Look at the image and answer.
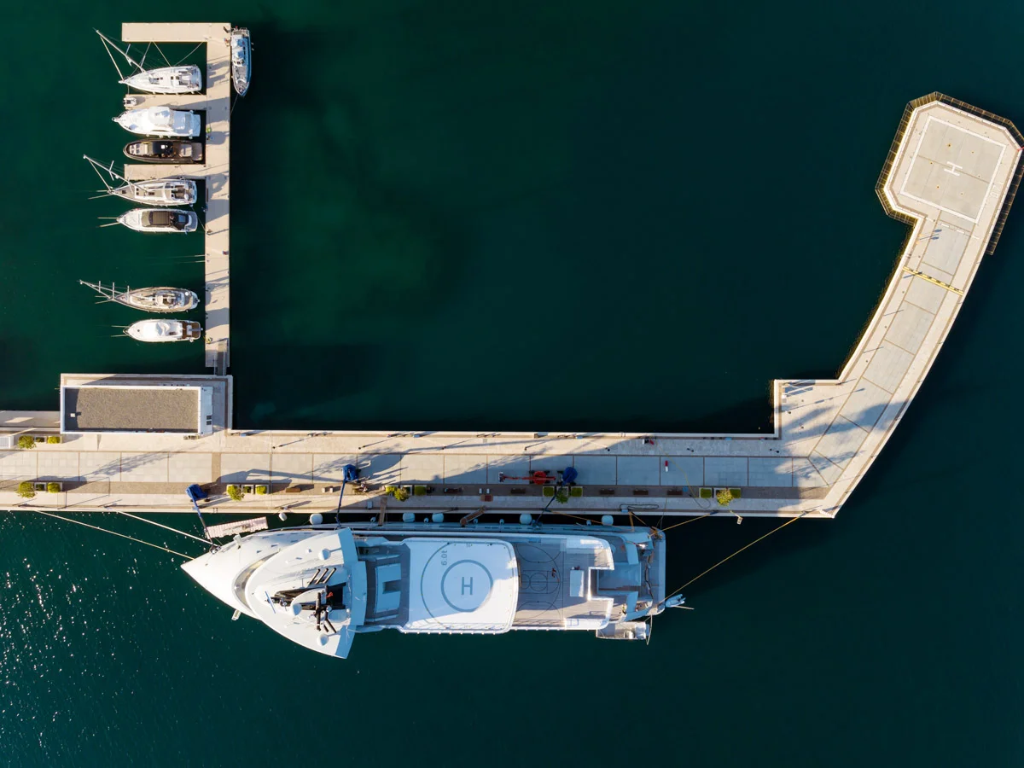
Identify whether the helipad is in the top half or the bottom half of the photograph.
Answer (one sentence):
You can find the helipad in the top half.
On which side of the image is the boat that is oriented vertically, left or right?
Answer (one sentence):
The boat that is oriented vertically sits on the left side.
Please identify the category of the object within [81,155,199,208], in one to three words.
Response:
boat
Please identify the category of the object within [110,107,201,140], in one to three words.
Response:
boat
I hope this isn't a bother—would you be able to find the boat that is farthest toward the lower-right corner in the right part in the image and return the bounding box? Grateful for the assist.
[666,593,685,606]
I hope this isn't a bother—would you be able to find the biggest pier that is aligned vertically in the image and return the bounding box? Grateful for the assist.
[122,23,232,367]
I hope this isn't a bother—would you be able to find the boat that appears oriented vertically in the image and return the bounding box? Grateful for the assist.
[231,26,256,97]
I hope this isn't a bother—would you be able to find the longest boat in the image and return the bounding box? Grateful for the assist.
[181,521,665,658]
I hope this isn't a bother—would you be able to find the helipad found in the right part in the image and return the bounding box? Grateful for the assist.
[875,91,1024,255]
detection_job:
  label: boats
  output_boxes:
[231,26,256,97]
[93,29,205,95]
[122,139,205,163]
[114,318,204,344]
[104,208,201,235]
[110,107,201,140]
[666,593,685,606]
[595,615,652,644]
[81,155,199,208]
[76,280,201,315]
[181,521,665,658]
